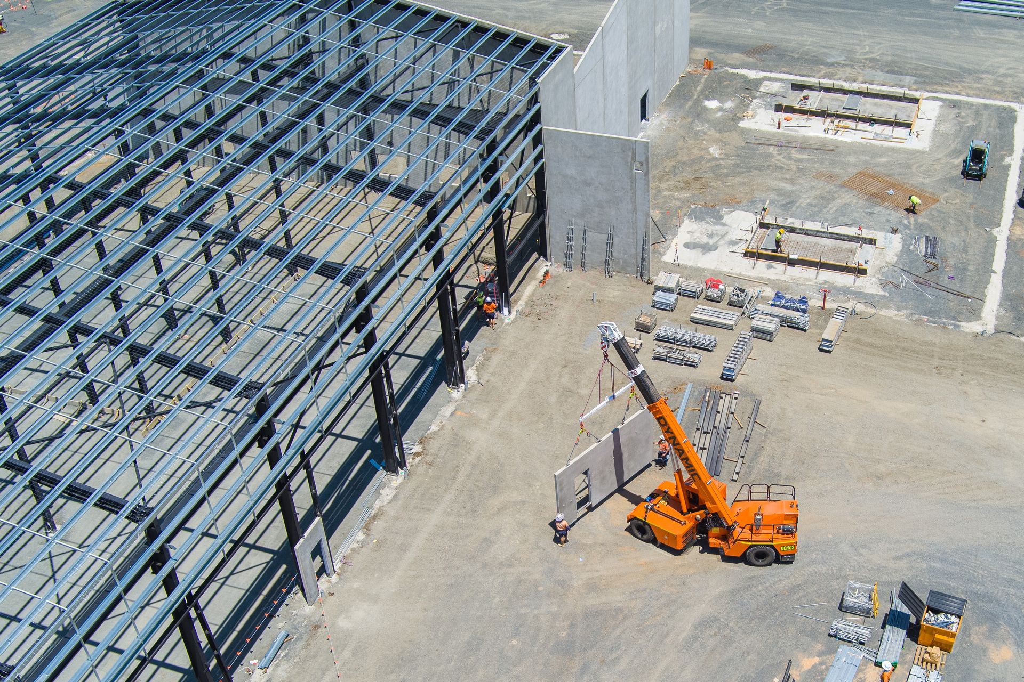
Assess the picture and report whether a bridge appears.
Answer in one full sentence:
No, there isn't any bridge down there.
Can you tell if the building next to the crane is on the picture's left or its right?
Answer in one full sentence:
The building next to the crane appears in the left half of the scene.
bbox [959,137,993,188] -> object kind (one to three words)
work vehicle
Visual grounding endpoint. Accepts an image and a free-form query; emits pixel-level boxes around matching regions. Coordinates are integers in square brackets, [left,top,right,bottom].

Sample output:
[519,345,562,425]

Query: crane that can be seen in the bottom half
[594,311,800,569]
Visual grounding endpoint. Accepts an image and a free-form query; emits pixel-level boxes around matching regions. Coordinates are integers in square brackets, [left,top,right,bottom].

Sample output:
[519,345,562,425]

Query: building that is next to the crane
[0,0,562,682]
